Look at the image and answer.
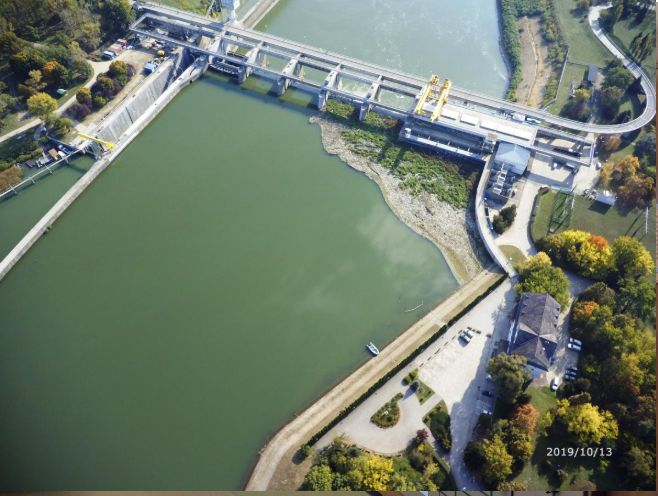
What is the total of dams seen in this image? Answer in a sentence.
In total, 1 dam can be seen.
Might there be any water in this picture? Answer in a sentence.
Yes, the picture does contain water.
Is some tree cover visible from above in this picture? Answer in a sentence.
Yes, tree cover shows up in the scene.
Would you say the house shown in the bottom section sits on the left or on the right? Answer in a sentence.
The house shown in the bottom section is on the right side of the image.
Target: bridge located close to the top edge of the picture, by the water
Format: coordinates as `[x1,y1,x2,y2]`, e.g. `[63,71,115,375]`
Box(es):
[136,0,658,139]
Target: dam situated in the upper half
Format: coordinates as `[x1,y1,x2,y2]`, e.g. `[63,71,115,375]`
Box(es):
[188,30,420,122]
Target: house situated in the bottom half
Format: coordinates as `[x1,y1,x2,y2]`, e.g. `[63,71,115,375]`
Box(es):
[492,294,560,384]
